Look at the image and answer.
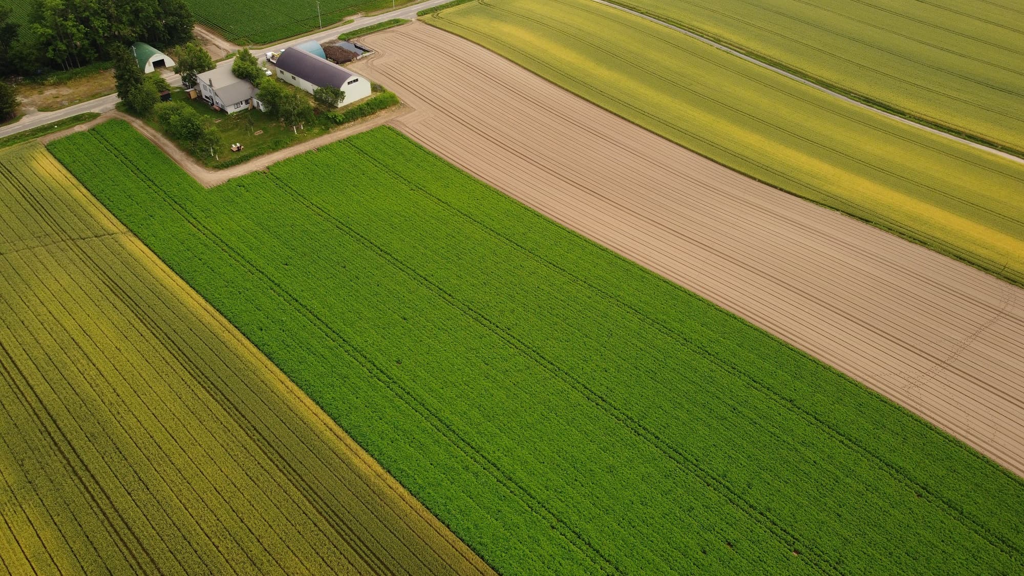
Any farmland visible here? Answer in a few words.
Yes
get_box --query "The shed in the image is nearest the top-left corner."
[125,40,176,73]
